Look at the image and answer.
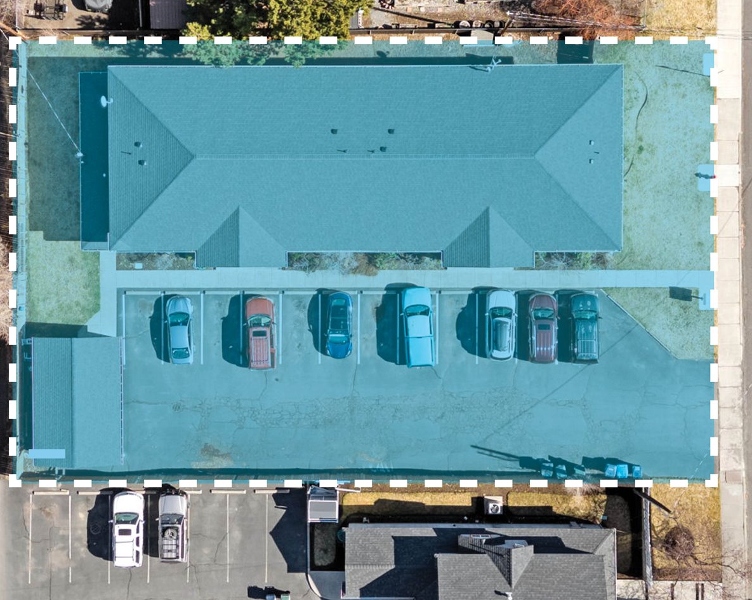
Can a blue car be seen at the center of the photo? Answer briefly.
Yes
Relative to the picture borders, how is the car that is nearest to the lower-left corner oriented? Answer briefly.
vertically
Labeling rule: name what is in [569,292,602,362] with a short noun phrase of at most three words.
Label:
car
